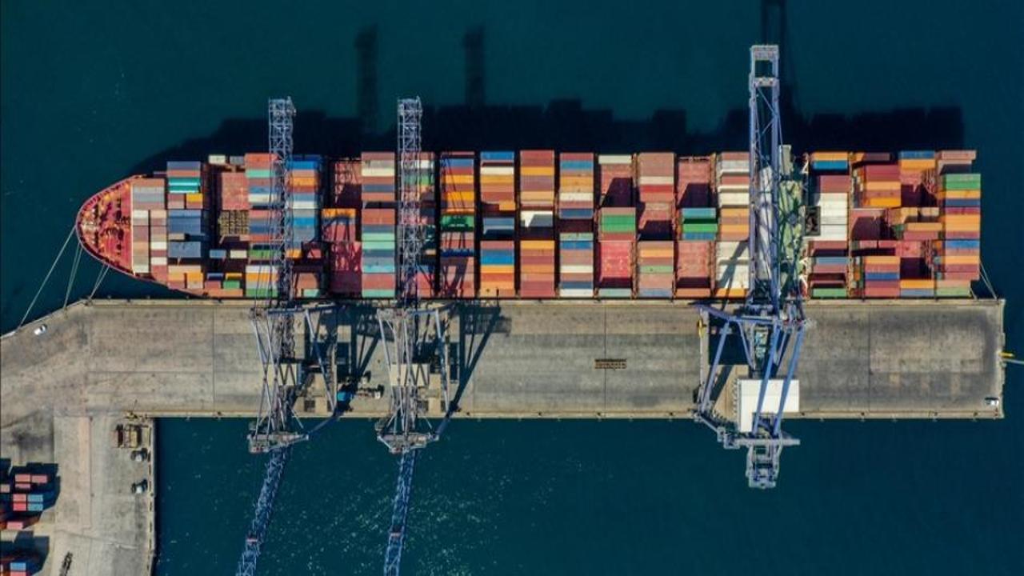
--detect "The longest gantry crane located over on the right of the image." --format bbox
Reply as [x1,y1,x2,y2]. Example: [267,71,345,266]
[687,44,807,492]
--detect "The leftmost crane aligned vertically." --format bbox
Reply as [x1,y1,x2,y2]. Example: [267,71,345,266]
[227,97,344,576]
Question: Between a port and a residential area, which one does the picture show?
port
